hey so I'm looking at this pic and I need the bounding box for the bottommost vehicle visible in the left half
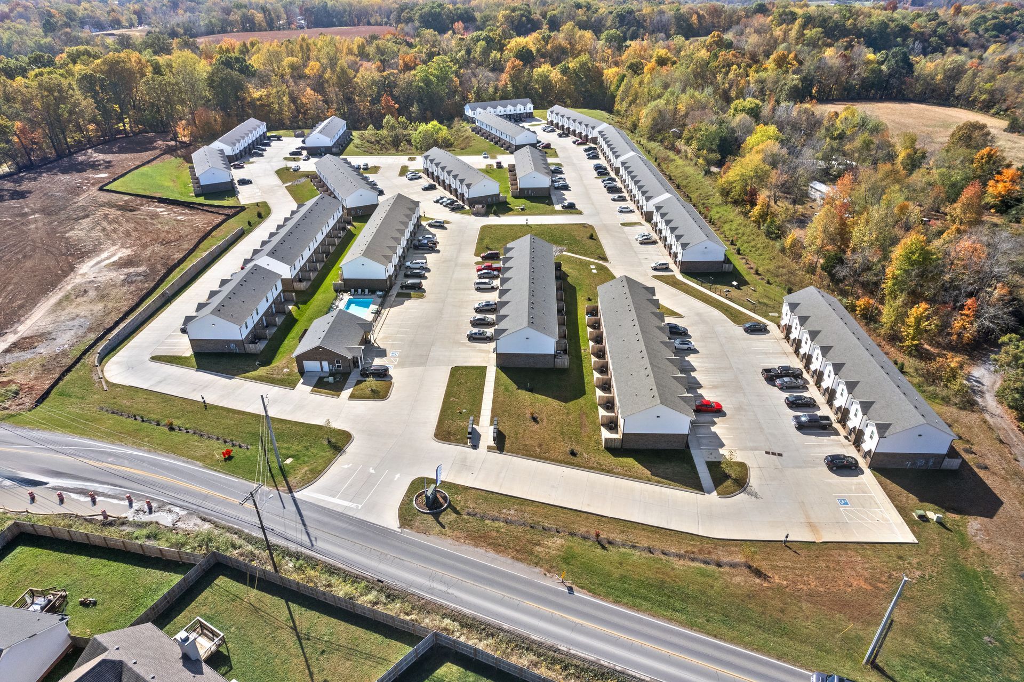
[360,363,390,377]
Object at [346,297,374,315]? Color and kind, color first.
blue swimming pool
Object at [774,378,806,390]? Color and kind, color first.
gray vehicle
